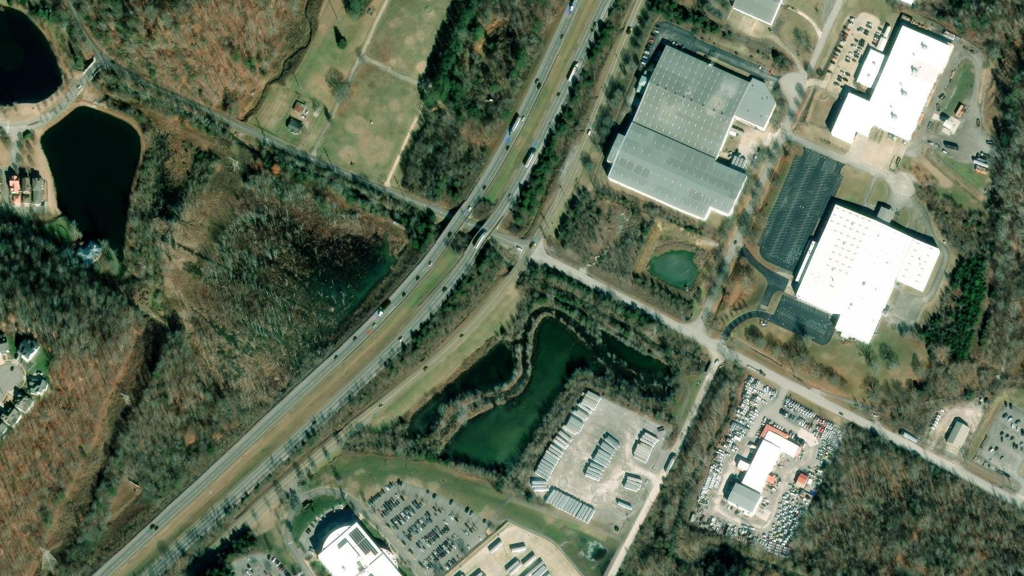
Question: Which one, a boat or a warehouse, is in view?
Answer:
warehouse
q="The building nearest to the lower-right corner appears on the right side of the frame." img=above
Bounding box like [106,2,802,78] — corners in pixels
[947,421,969,449]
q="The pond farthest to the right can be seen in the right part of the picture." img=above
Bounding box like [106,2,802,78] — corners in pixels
[648,250,699,289]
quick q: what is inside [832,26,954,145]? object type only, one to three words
building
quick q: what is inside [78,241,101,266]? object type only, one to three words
house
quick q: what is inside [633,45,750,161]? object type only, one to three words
warehouse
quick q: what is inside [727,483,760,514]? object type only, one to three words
barn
